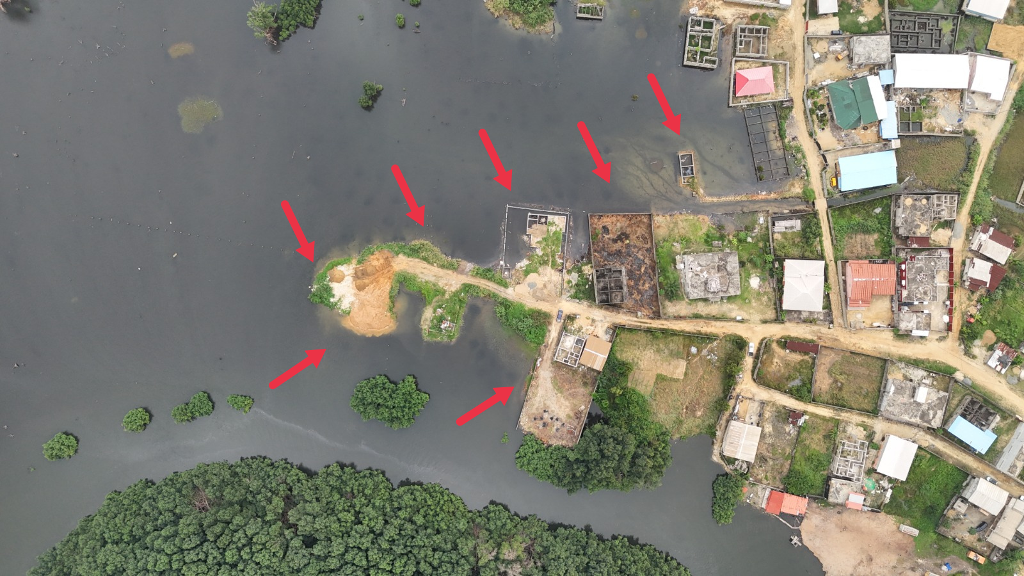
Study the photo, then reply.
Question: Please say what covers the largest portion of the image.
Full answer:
What you mostly see from above here is water.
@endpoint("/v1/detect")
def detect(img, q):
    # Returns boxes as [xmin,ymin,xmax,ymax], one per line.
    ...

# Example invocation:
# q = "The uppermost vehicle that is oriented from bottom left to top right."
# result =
[834,47,850,61]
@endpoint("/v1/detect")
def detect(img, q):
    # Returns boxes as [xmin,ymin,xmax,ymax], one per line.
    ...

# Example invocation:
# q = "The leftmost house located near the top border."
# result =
[576,4,603,19]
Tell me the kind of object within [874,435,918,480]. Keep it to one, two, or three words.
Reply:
house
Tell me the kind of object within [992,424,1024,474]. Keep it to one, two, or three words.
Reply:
shed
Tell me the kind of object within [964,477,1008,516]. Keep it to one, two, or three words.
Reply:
house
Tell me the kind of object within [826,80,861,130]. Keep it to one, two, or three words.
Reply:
building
